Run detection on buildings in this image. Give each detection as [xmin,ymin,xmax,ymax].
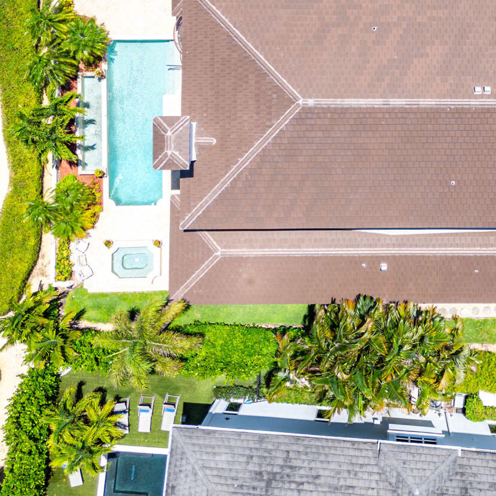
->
[164,399,496,496]
[151,0,496,306]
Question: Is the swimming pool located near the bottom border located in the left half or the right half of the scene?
left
